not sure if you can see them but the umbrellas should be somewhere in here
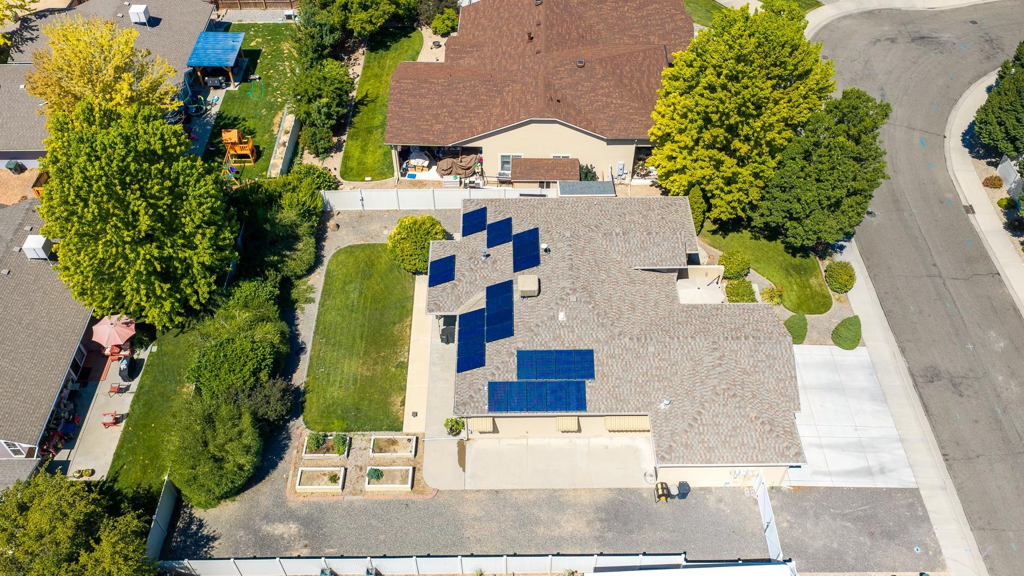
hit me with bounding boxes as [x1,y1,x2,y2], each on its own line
[678,271,728,303]
[90,309,142,346]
